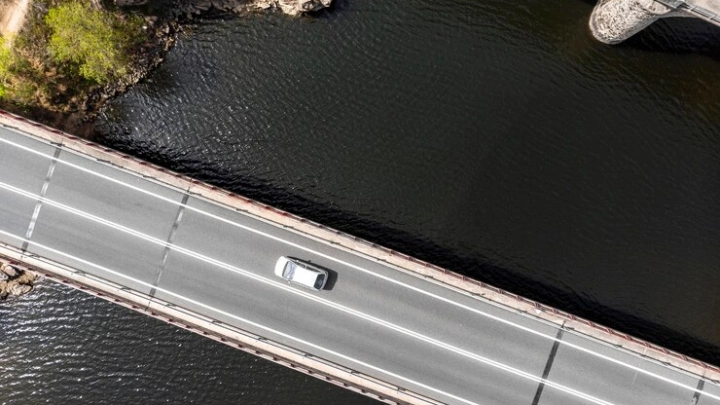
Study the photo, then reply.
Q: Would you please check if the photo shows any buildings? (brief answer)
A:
No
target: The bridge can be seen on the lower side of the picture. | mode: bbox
[0,107,720,405]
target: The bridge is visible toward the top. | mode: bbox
[589,0,720,45]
